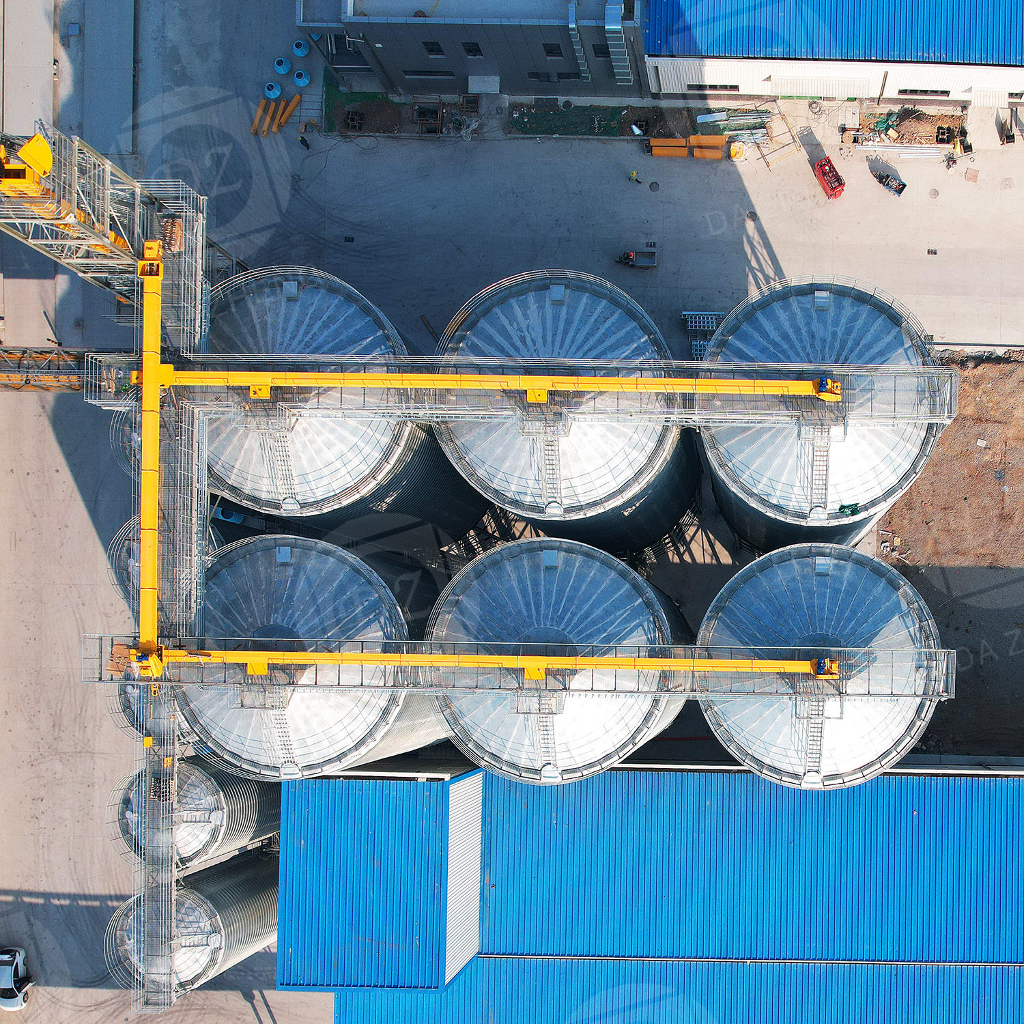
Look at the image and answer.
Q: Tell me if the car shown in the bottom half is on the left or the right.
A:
left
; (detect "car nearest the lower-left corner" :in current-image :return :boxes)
[0,946,37,1010]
